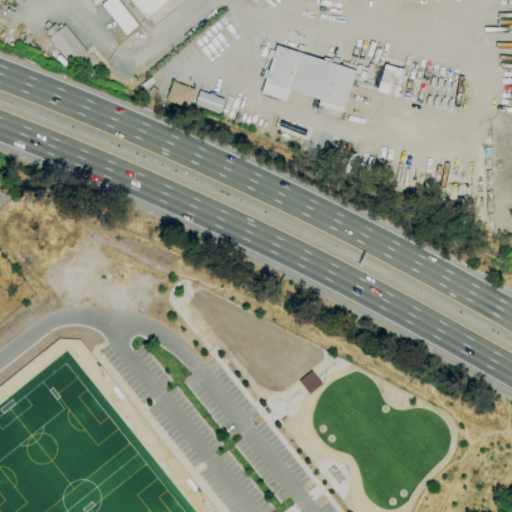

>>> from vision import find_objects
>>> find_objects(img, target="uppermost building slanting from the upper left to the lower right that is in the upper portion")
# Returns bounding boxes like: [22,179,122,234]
[102,0,140,36]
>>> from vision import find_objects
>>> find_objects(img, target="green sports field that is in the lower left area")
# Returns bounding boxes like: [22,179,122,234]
[0,352,196,512]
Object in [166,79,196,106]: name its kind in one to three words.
building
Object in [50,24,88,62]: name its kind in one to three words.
shed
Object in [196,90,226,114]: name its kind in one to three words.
building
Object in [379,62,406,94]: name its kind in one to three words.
shed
